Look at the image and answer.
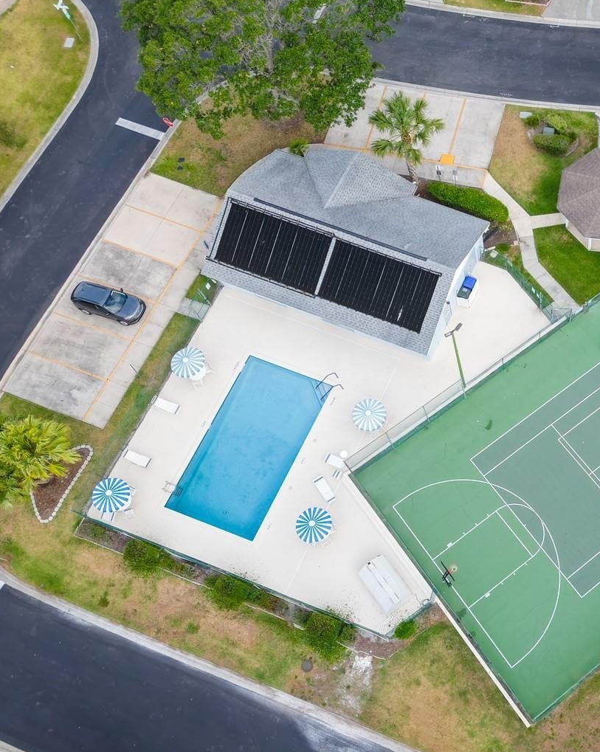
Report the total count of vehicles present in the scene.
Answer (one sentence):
Just 1 vehicle appears in this view.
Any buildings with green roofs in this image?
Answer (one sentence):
No, I find no building with a green roof anywhere in the image.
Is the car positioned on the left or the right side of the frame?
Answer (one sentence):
You can find the car on the left side of the picture.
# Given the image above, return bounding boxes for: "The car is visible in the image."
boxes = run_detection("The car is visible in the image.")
[68,285,144,329]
